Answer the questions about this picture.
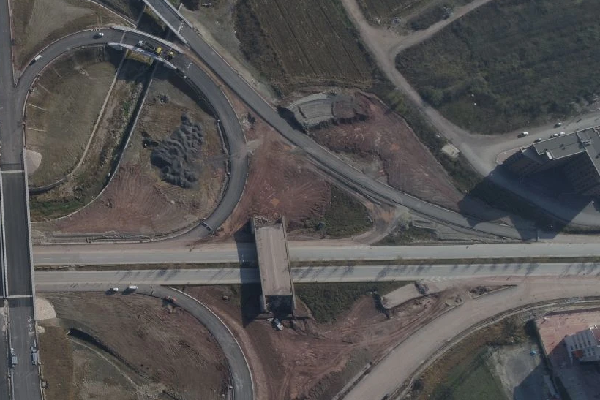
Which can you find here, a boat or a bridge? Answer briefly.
bridge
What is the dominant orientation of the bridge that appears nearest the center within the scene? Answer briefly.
up and down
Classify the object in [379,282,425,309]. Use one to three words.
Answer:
bridge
